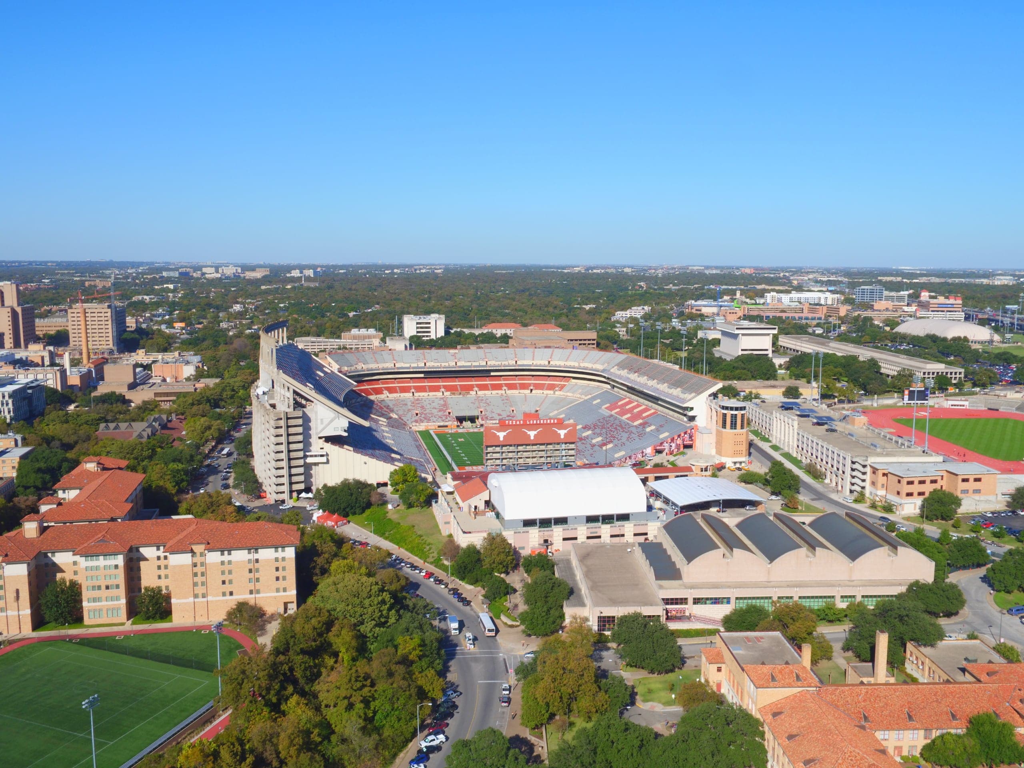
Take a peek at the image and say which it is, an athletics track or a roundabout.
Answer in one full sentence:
This aerial view contains an athletics track.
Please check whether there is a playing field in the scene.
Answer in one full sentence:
Yes, the photo shows a playing field.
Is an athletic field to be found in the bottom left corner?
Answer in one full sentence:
Yes, an athletic field can be seen in the bottom left corner.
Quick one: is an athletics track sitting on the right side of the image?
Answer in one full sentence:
Yes, there is an athletics track on the right side of the image.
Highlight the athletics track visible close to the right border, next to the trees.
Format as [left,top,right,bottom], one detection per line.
[851,407,1024,468]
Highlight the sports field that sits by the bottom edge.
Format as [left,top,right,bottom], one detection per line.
[0,632,248,768]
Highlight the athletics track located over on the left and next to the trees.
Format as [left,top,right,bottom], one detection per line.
[0,625,261,751]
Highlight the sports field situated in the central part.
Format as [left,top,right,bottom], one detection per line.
[413,426,483,476]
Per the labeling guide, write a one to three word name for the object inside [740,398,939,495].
building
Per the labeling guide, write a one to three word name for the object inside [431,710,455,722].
vehicle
